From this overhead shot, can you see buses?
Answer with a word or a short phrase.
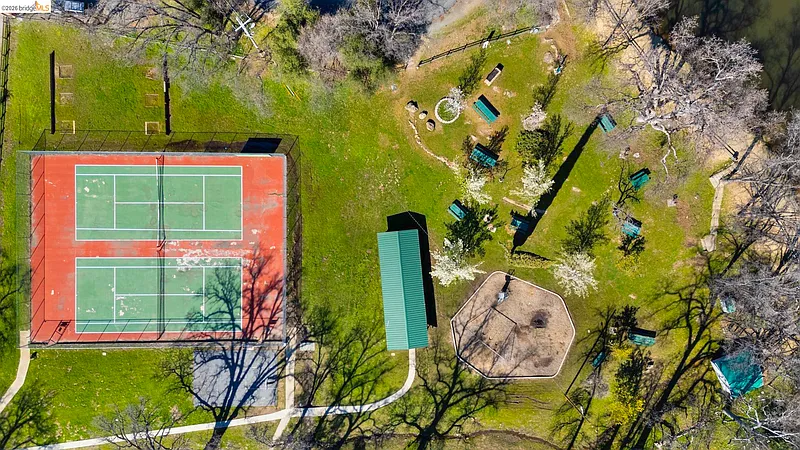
No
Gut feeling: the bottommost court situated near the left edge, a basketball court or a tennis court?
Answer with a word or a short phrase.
tennis court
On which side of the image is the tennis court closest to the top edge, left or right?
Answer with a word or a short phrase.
left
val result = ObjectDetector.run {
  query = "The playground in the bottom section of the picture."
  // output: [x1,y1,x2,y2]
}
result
[452,272,574,379]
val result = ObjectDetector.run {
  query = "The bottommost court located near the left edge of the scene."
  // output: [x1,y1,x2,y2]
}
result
[31,249,282,344]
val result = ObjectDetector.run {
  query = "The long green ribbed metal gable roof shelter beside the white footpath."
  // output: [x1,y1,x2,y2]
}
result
[377,230,427,352]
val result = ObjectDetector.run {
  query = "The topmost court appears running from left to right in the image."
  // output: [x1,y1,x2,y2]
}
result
[31,154,282,249]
